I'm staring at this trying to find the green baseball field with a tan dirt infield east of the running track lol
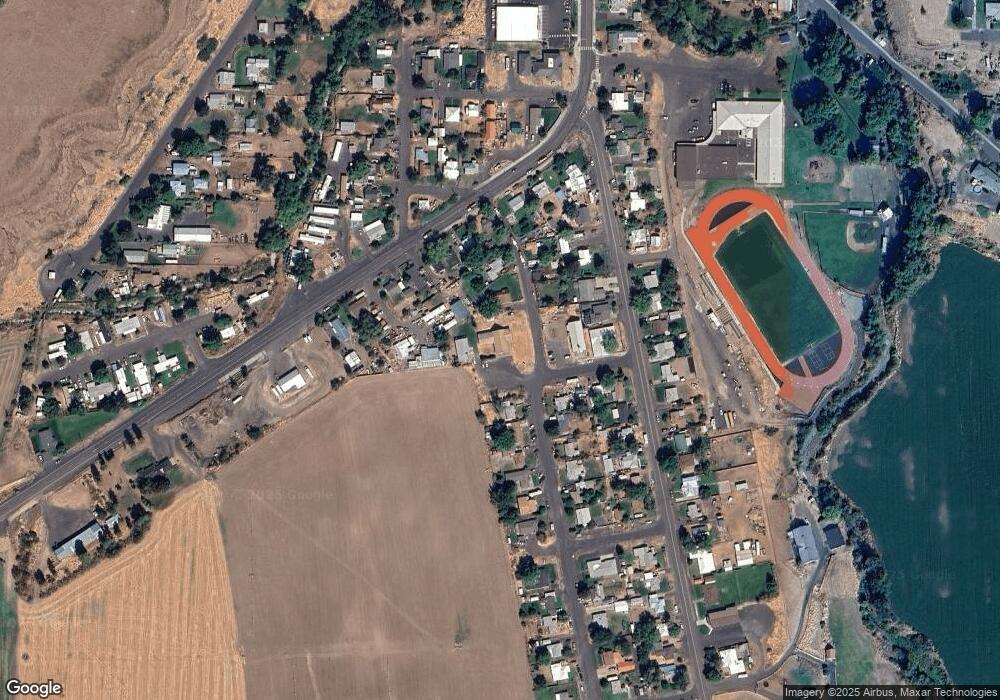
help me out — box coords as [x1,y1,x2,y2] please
[805,212,881,280]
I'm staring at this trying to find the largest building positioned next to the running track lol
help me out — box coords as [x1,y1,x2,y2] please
[716,101,784,184]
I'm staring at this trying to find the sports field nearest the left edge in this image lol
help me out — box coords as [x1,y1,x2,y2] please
[715,210,840,364]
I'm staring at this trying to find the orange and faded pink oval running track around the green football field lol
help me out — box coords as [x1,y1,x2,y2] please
[683,188,854,411]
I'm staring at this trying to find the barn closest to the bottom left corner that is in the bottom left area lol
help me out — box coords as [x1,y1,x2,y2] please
[51,519,104,557]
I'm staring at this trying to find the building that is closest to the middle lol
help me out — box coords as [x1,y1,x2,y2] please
[478,330,513,357]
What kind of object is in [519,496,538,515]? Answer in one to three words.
house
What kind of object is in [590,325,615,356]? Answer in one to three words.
building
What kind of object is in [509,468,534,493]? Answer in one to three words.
house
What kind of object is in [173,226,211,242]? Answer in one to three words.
barn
